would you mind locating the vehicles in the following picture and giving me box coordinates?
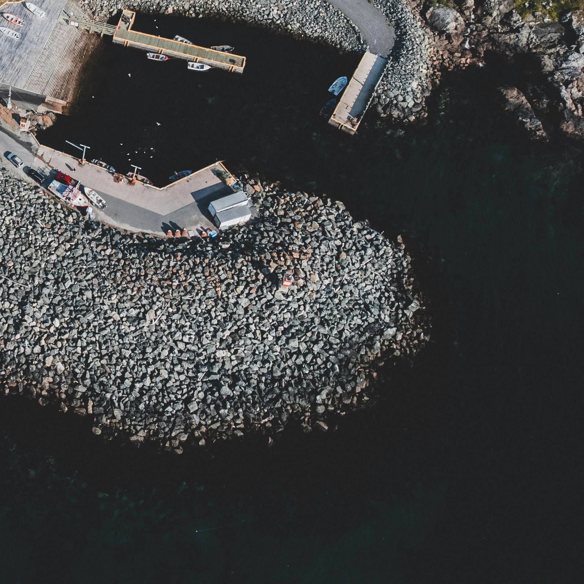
[55,170,82,187]
[5,149,26,167]
[25,165,47,182]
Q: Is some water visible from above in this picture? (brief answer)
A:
Yes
